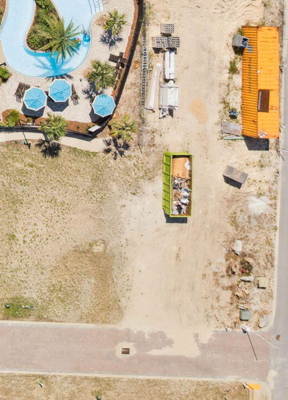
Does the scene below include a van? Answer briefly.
No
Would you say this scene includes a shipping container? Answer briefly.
Yes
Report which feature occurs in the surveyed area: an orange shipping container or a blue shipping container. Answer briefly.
orange shipping container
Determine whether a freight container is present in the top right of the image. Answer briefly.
Yes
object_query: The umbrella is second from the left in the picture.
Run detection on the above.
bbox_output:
[47,78,70,101]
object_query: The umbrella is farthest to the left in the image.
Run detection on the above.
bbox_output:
[23,86,46,109]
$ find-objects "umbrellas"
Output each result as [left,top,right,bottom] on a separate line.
[90,93,115,118]
[47,78,70,101]
[23,86,46,109]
